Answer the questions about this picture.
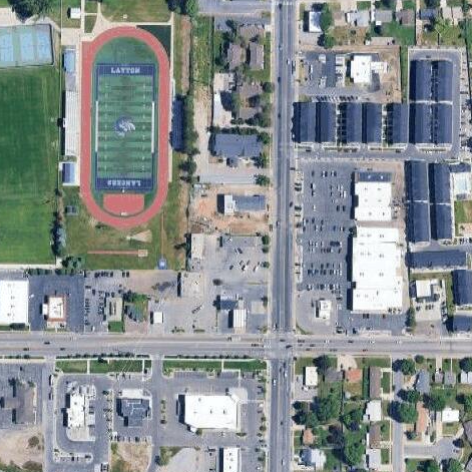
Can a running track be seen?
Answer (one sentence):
Yes, there is a running track in the image.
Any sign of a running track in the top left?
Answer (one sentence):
Yes, I can see a running track in the top left.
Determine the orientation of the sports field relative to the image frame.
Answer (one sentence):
Seen from above, the sports field lies up and down.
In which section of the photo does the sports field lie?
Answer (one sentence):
Look in the top left portion of the view to spot the sports field.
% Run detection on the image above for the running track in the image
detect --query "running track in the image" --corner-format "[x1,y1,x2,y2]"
[81,27,170,230]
